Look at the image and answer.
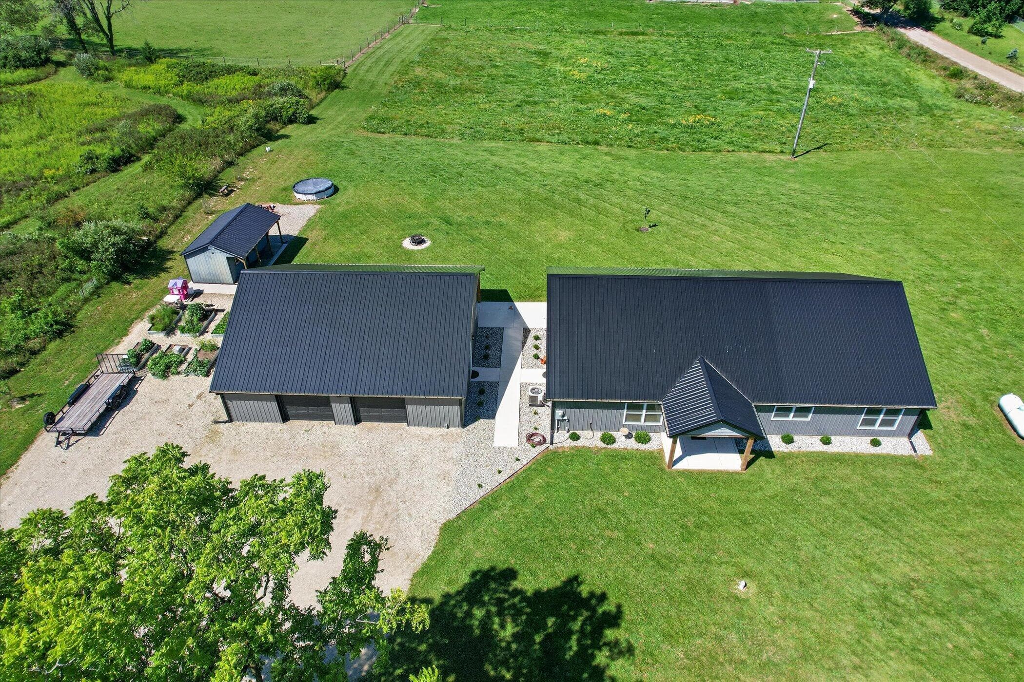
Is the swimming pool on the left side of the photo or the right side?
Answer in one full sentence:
The swimming pool appears in the left half of the scene.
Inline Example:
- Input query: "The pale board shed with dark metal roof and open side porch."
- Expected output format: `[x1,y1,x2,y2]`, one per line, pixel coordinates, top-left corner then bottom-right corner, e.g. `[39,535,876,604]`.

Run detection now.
[180,203,283,283]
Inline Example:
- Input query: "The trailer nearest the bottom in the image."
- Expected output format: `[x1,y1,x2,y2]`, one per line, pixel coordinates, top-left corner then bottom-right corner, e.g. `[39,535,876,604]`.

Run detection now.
[40,355,136,455]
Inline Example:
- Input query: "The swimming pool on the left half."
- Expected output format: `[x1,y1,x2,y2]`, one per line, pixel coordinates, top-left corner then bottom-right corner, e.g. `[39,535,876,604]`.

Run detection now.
[291,170,338,198]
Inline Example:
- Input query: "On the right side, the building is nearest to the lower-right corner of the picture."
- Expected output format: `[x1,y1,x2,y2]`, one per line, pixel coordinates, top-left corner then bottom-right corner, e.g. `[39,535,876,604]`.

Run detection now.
[546,268,939,472]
